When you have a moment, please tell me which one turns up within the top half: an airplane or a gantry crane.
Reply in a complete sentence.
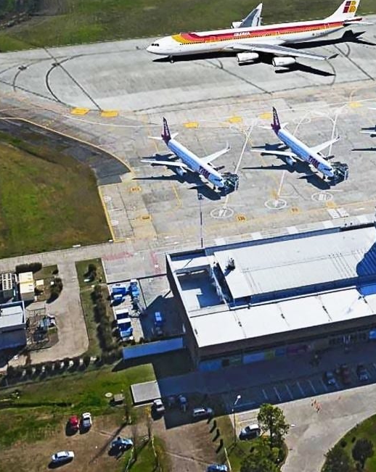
What appears within the top half is an airplane.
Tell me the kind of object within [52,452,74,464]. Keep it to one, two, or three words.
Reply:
vehicle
